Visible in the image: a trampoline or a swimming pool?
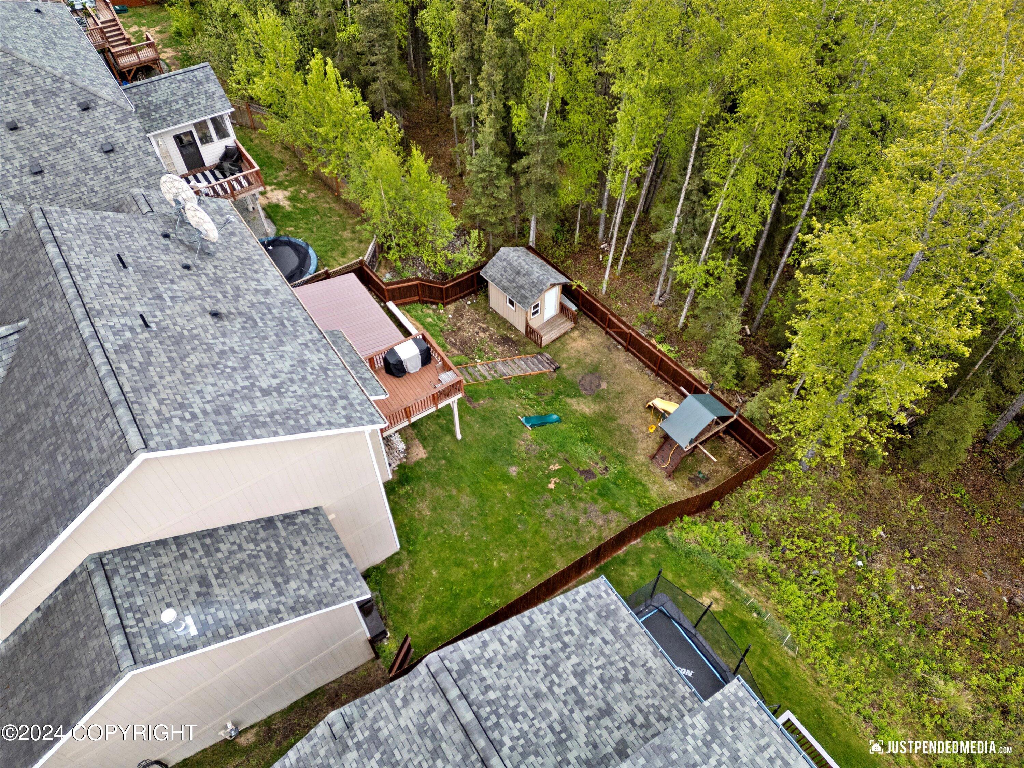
trampoline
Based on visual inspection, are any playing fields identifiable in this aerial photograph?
No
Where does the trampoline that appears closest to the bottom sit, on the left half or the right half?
right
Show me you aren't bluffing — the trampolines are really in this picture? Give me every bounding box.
[266,237,316,280]
[622,565,803,714]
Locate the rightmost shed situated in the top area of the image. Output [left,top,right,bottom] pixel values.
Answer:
[482,247,575,343]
